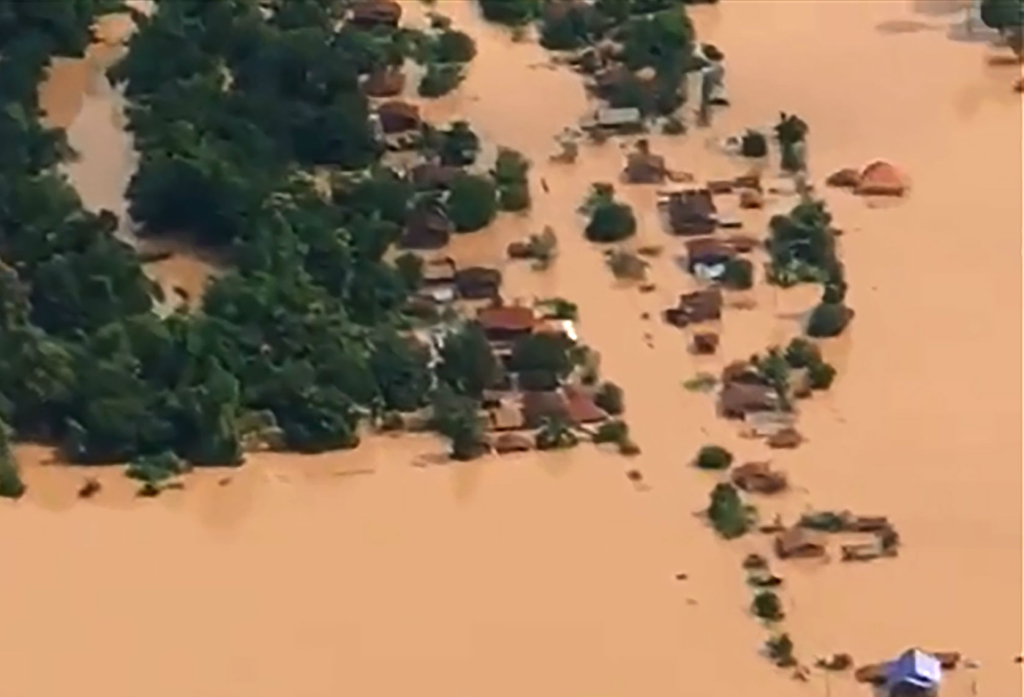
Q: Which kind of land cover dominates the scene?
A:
water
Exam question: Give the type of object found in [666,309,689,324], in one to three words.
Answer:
shed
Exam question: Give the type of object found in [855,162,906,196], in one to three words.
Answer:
house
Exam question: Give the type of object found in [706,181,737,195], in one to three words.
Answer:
shed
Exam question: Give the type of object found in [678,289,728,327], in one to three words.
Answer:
house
